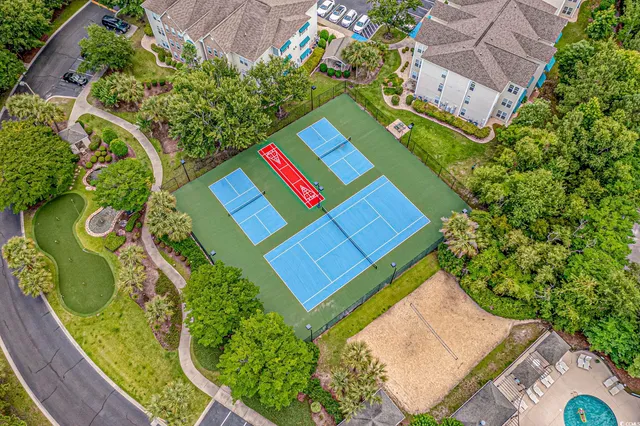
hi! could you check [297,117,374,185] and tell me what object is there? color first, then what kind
blue sports court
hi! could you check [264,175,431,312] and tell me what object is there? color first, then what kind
blue tennis court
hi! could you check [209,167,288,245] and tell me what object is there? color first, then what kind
blue sports court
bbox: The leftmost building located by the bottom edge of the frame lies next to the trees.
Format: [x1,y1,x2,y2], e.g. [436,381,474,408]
[342,386,404,426]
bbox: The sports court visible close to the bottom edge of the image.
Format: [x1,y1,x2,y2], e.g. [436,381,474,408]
[345,269,544,414]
